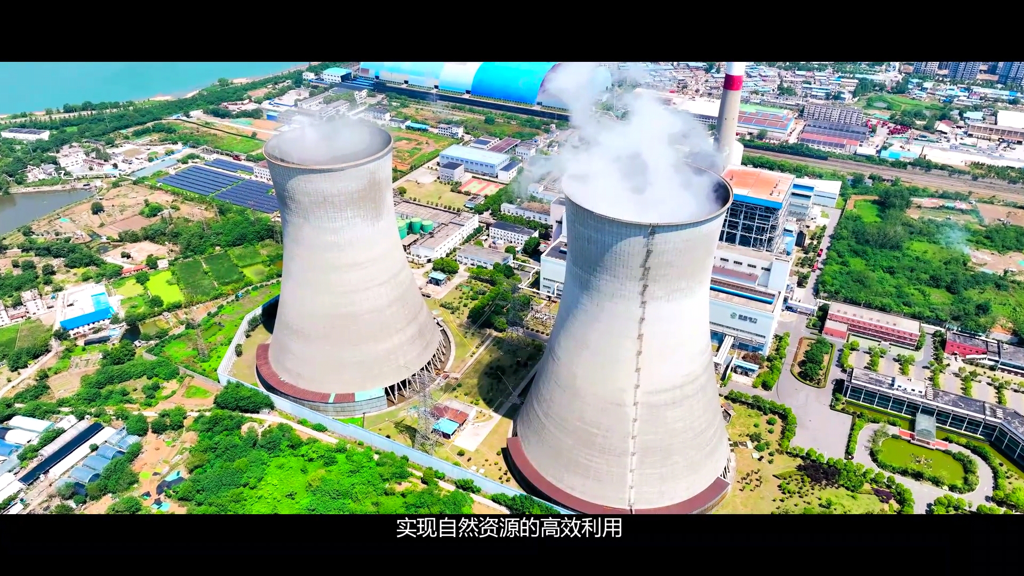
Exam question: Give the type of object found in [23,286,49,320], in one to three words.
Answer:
house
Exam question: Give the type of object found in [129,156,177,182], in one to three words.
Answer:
shed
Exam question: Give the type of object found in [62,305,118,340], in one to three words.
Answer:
building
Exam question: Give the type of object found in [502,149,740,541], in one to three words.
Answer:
cooling tower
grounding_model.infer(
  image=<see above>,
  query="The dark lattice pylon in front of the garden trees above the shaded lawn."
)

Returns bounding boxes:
[500,292,526,352]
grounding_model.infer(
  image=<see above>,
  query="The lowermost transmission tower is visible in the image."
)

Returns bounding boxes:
[403,377,444,455]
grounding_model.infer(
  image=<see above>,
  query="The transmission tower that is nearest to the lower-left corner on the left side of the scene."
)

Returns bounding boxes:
[180,306,217,365]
